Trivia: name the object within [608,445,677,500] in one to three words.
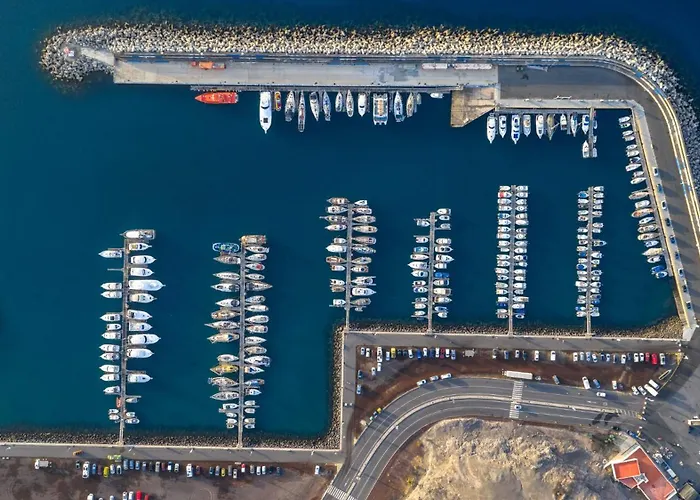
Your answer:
building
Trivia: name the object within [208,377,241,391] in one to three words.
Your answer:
boat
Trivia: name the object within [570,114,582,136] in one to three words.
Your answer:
boat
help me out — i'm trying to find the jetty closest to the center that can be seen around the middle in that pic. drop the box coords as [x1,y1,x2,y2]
[328,203,369,333]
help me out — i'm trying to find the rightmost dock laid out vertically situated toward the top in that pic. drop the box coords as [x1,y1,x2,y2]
[621,111,671,276]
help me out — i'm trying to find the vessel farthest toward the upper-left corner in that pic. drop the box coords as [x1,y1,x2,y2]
[193,92,241,104]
